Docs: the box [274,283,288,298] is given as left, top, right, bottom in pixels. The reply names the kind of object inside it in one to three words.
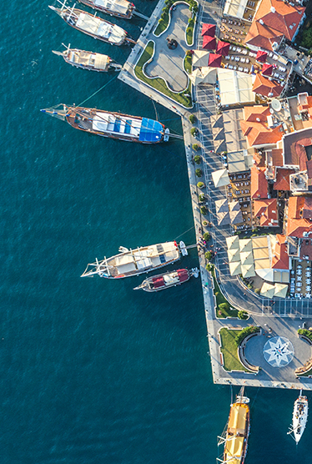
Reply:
umbrella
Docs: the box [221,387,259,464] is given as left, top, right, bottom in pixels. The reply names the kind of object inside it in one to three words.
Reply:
boat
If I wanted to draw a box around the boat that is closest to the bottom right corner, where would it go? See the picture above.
[291,388,310,444]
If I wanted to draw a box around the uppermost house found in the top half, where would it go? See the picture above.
[243,0,307,54]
